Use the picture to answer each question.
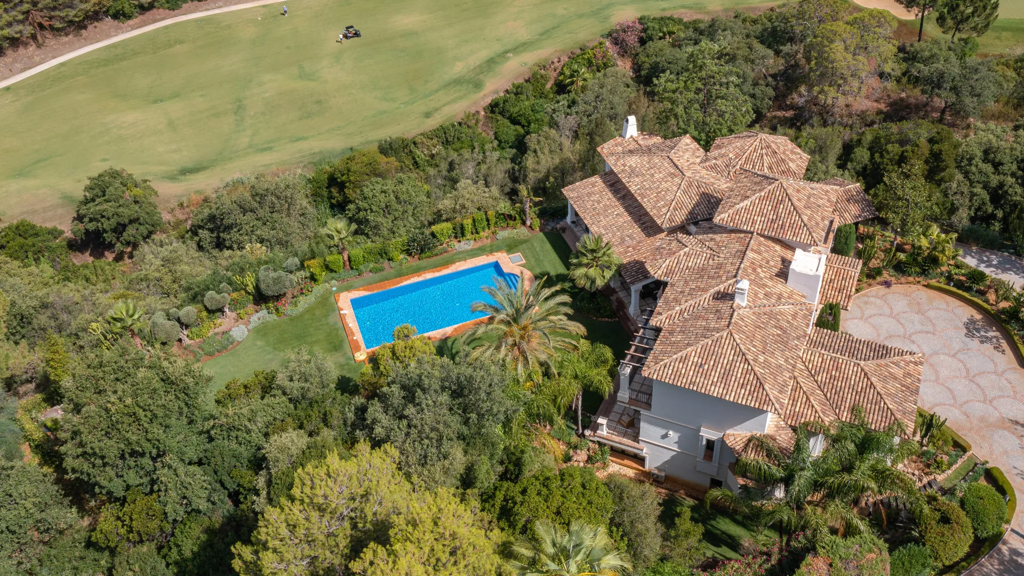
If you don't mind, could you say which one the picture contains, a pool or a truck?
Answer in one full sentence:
Looking from above, you can make out a pool.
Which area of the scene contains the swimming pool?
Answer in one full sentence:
The swimming pool is located in the center region of the scene.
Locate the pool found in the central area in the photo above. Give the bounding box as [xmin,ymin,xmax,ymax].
[334,244,540,364]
